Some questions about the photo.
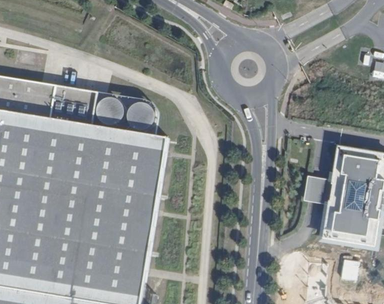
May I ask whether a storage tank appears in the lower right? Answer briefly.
No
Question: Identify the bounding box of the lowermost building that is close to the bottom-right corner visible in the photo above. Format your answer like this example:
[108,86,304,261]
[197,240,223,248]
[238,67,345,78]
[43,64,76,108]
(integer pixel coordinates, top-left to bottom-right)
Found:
[342,260,360,282]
